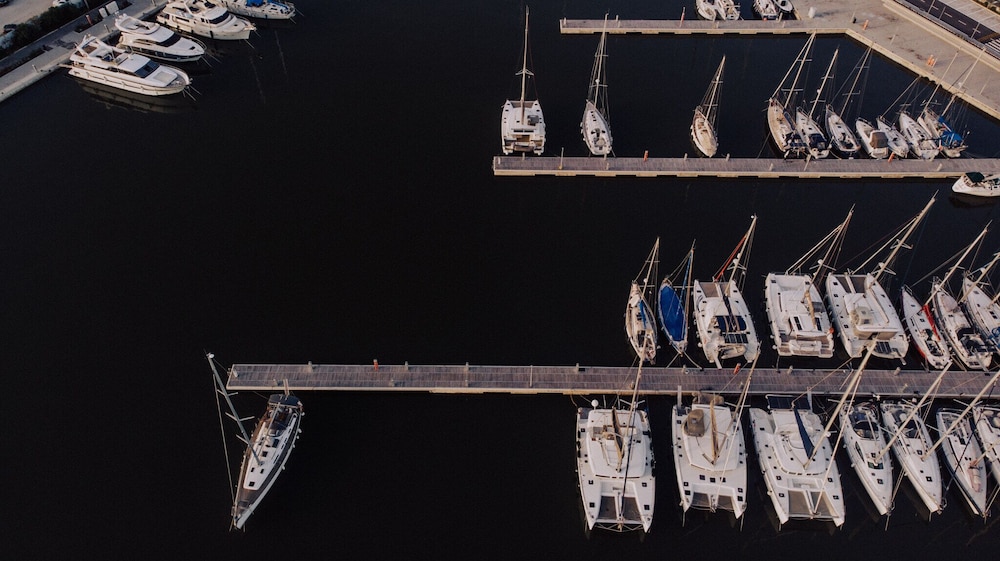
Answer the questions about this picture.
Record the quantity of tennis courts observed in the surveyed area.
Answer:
zero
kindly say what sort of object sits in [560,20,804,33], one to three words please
pier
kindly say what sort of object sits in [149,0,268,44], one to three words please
boat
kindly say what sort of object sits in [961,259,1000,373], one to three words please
boat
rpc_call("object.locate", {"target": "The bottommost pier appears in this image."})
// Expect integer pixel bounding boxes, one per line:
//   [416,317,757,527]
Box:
[228,365,1000,400]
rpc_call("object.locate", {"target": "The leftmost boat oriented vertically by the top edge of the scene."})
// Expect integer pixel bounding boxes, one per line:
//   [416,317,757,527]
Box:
[499,2,546,156]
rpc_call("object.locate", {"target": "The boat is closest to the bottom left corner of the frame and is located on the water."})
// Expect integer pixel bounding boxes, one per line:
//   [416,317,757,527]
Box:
[207,350,309,542]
